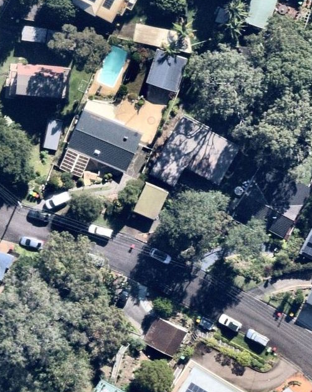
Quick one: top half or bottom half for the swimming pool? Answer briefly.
top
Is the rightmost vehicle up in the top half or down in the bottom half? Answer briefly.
bottom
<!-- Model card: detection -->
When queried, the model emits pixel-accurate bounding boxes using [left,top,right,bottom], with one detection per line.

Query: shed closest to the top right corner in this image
[245,0,277,27]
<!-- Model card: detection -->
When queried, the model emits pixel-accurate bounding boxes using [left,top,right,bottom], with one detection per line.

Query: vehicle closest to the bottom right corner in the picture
[244,329,270,349]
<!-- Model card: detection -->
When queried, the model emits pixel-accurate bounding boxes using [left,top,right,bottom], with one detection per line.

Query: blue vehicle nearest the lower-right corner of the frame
[196,317,215,330]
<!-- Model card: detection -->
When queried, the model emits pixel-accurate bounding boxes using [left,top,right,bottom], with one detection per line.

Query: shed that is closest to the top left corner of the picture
[21,26,47,43]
